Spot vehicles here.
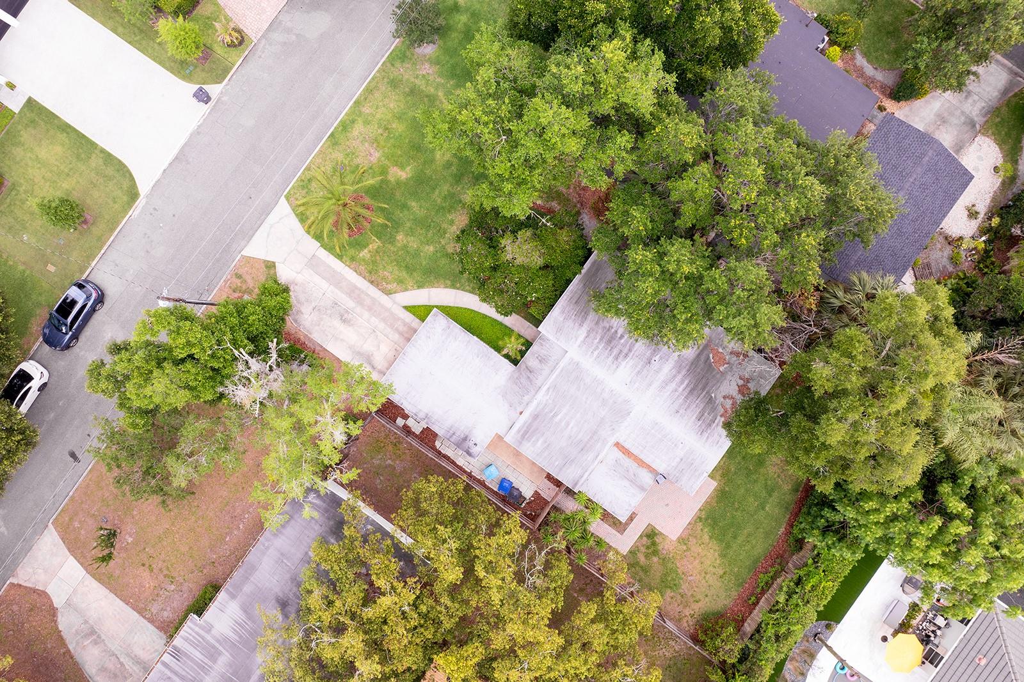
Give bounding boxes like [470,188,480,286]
[39,282,106,356]
[0,364,49,435]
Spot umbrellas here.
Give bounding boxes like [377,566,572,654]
[879,632,925,674]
